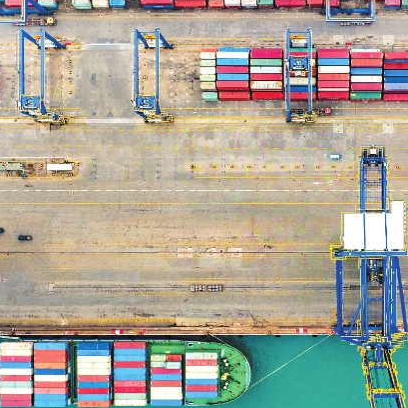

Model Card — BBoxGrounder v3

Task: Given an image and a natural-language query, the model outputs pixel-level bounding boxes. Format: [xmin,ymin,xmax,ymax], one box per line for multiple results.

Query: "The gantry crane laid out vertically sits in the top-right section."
[282,29,318,124]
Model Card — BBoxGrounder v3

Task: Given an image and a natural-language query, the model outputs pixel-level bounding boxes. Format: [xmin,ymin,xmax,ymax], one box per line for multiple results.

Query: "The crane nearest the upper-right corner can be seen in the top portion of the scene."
[316,0,375,25]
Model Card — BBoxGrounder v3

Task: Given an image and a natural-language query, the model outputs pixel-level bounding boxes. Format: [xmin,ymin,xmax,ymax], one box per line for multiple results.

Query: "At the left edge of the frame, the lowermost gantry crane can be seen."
[15,29,71,124]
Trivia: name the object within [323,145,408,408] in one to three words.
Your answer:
container crane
